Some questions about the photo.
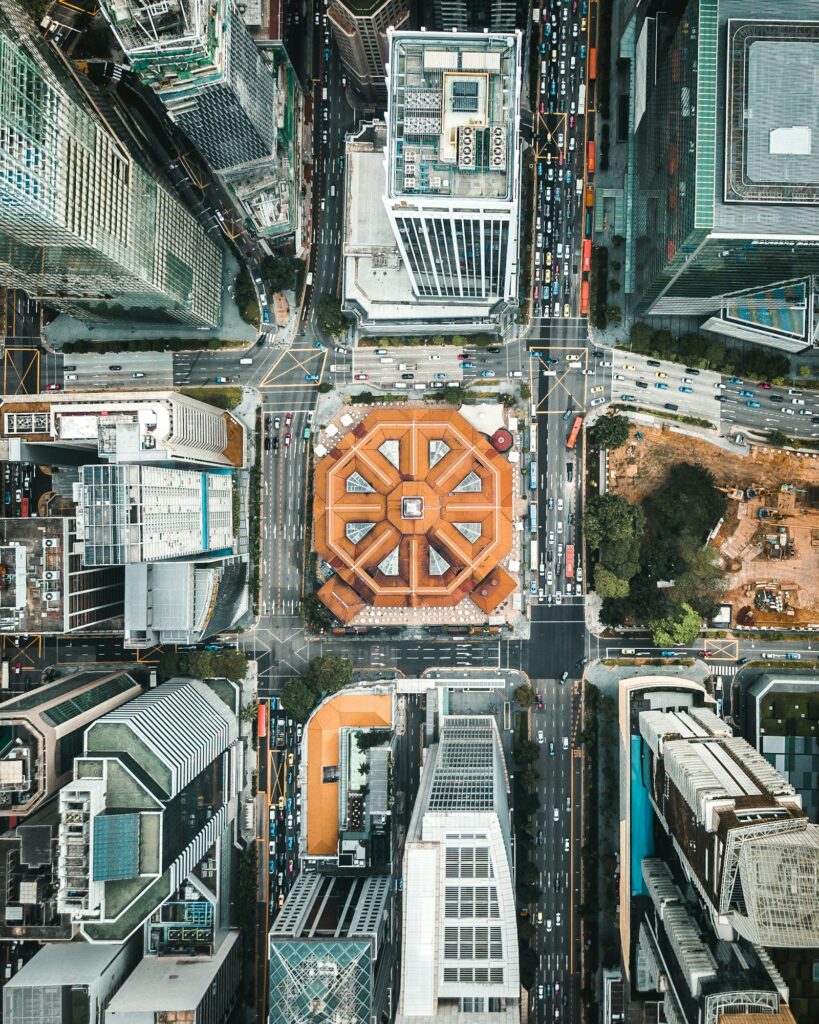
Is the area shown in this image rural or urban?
urban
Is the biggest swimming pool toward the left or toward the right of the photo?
right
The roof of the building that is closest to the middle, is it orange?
Yes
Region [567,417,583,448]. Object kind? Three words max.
vehicle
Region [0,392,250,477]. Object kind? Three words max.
building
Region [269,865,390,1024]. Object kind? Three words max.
building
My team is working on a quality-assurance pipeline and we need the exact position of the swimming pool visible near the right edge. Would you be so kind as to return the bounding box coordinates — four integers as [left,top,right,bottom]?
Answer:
[728,284,804,336]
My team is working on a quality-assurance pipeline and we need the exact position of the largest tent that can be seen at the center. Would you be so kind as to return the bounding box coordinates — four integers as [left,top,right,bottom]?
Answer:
[458,403,504,434]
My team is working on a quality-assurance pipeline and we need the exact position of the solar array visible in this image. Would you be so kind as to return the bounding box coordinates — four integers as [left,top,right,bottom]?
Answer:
[104,811,139,880]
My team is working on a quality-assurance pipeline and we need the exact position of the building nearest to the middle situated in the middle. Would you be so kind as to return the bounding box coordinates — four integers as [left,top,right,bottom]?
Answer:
[314,409,511,606]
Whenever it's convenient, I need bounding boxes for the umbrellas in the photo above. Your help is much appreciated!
[508,419,518,429]
[489,616,504,625]
[324,423,339,437]
[513,593,521,608]
[508,451,519,462]
[513,520,524,531]
[340,414,354,428]
[507,560,519,572]
[314,444,327,457]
